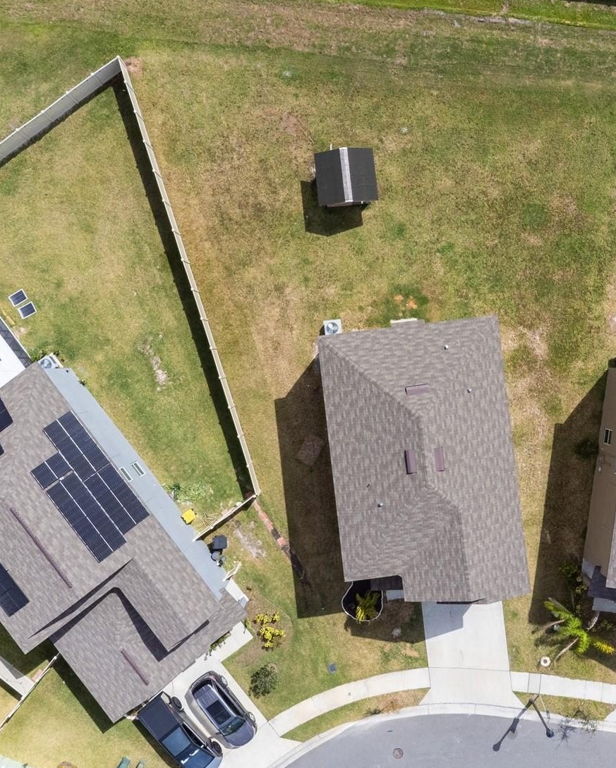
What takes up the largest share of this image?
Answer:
grass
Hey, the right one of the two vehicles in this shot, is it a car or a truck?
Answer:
car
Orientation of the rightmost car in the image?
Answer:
on a diagonal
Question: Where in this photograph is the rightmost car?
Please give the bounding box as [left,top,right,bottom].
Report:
[191,672,258,748]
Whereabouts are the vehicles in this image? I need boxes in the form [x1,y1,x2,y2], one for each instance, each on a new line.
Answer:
[191,672,258,748]
[138,689,225,768]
